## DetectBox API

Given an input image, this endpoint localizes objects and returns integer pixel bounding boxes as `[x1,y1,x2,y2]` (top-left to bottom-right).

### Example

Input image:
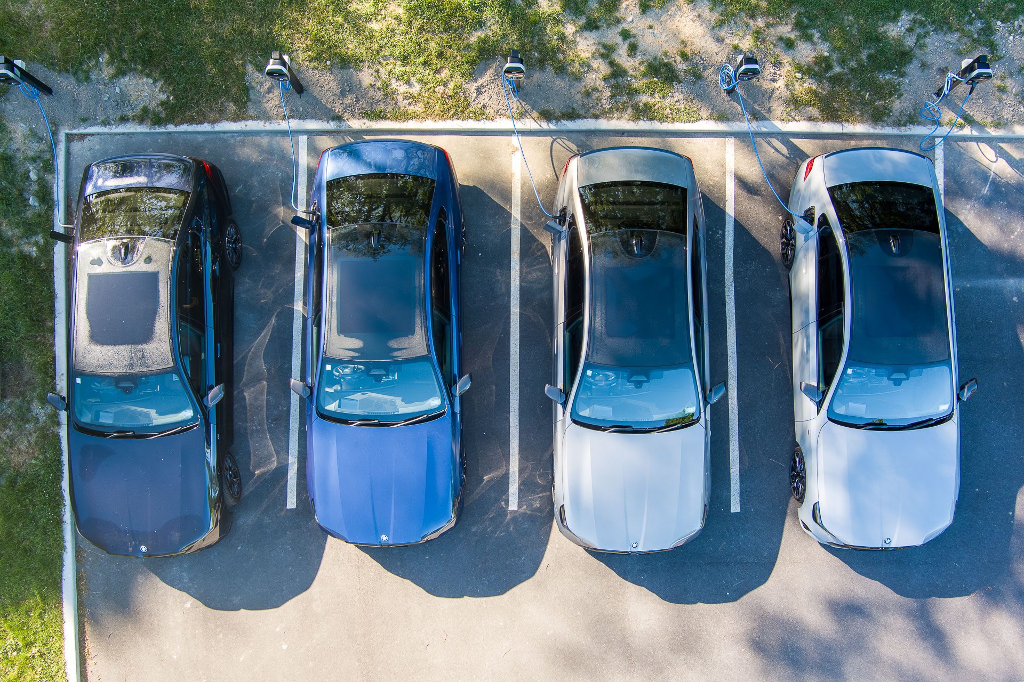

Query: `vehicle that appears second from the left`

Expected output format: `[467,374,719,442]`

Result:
[291,140,473,548]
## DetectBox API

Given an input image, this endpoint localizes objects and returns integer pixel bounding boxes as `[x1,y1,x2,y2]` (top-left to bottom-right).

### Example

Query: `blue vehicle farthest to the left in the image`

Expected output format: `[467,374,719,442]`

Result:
[47,151,244,558]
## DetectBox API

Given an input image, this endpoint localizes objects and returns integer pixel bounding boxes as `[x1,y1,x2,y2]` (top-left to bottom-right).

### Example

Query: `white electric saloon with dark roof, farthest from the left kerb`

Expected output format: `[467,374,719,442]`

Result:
[778,141,981,551]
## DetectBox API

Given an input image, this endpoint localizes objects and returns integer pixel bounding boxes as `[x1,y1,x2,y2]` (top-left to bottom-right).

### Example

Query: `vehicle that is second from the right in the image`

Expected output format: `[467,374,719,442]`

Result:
[538,145,726,555]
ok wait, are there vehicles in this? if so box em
[778,141,981,551]
[291,140,473,548]
[538,145,726,555]
[47,151,244,558]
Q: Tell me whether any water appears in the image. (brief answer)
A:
No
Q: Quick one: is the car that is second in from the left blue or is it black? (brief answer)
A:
blue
